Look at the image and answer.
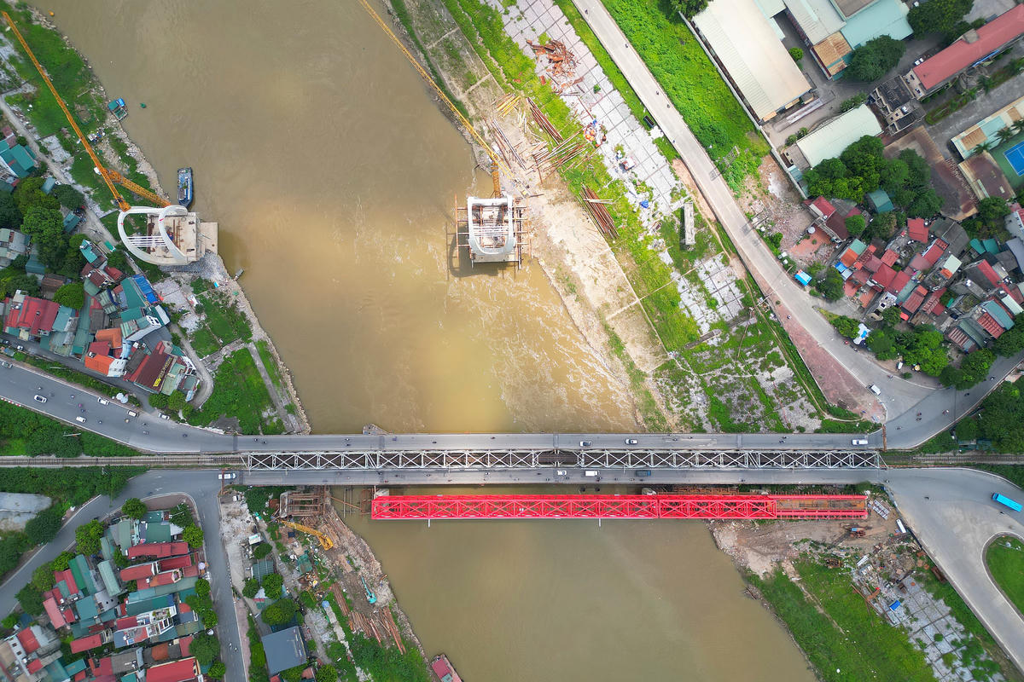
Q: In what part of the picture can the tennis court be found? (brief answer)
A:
top right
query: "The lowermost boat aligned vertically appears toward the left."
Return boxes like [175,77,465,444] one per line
[177,167,192,206]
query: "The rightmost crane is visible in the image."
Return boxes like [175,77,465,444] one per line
[356,0,528,204]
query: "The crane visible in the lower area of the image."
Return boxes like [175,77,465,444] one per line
[280,514,338,556]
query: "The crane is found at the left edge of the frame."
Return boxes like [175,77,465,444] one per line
[0,5,176,219]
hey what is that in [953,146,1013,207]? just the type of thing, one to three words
building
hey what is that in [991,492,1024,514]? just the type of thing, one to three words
truck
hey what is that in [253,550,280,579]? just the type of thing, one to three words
house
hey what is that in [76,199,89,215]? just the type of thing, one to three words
vehicle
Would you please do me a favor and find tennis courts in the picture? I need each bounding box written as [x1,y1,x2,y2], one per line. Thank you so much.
[988,130,1024,199]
